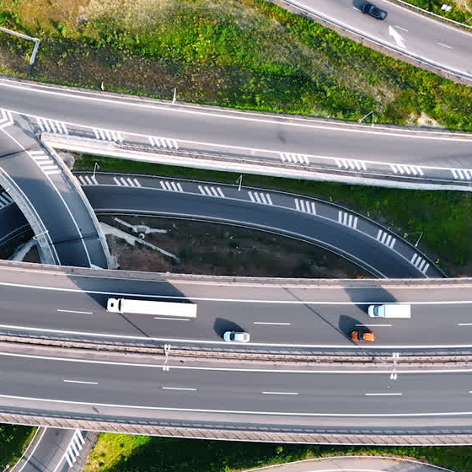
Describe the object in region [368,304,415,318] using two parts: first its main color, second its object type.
white vehicle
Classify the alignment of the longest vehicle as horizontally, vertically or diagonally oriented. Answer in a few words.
horizontally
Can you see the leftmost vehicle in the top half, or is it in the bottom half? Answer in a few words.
bottom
